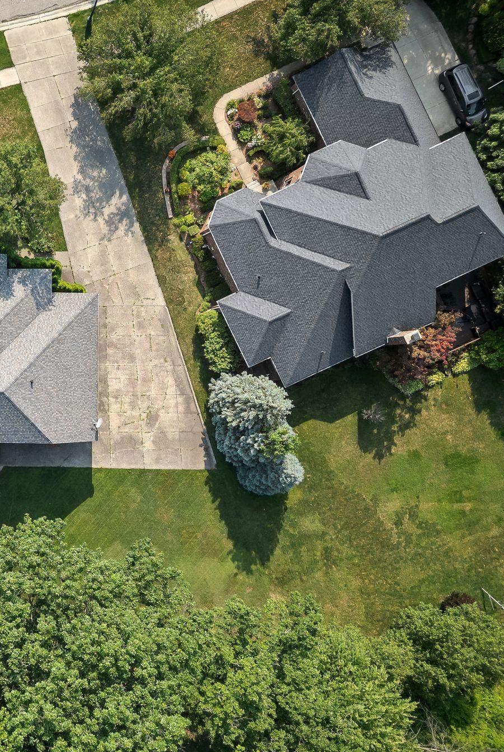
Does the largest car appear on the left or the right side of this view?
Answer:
right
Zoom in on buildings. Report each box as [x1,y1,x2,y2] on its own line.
[197,41,504,389]
[0,253,103,444]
